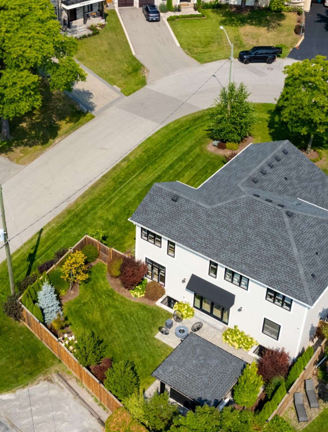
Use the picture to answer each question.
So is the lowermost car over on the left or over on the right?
right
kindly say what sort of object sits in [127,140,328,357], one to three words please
house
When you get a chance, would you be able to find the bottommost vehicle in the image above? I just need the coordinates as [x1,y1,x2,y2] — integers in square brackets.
[239,44,280,65]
